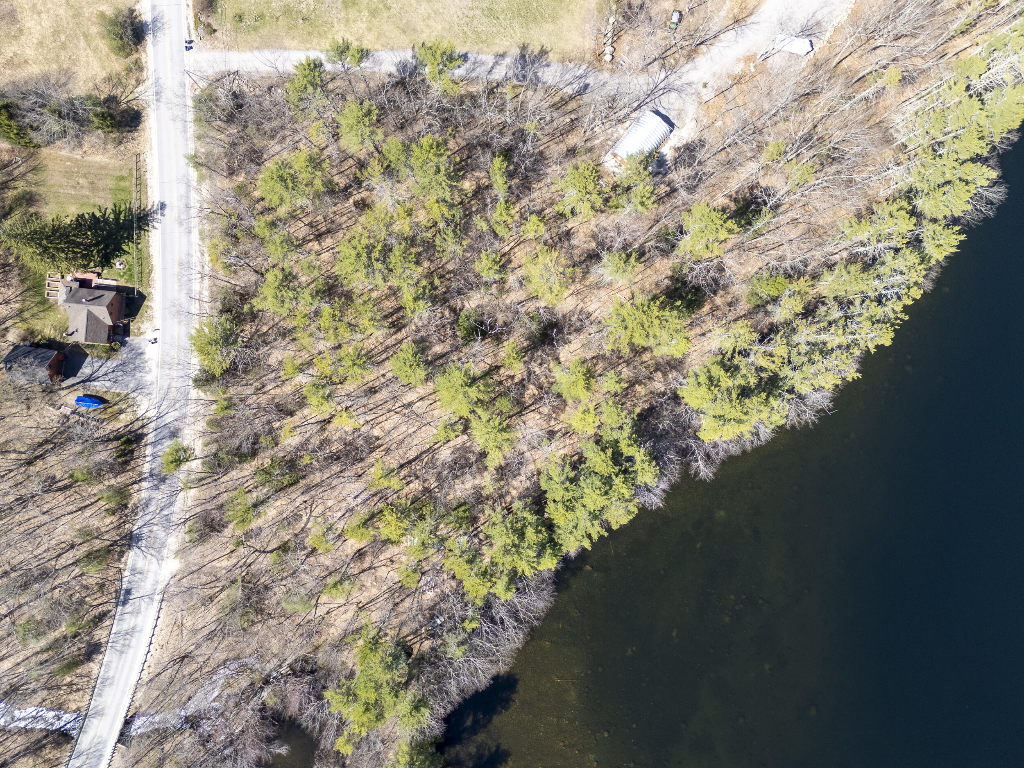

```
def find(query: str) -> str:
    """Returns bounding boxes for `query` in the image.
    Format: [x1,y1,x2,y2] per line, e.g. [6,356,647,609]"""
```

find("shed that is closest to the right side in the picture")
[607,104,669,168]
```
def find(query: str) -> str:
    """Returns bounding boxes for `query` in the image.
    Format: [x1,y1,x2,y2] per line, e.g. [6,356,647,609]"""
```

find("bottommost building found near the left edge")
[3,346,66,387]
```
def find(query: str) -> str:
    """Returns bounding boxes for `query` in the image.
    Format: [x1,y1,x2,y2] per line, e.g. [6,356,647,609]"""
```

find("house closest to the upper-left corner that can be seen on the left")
[62,270,130,346]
